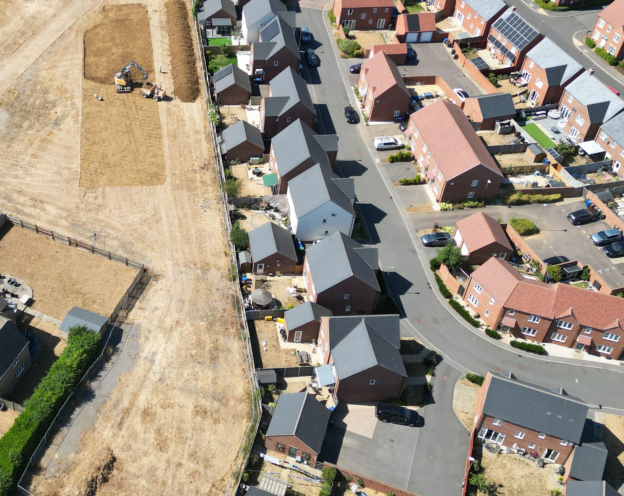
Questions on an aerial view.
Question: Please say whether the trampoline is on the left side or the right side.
left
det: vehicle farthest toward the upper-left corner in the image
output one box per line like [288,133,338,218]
[115,51,144,89]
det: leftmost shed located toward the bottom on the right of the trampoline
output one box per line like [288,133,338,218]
[57,303,104,344]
